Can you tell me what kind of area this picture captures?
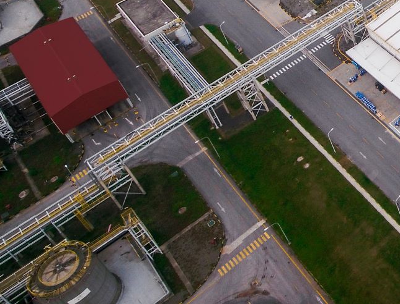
industrial area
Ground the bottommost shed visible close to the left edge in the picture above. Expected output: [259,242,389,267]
[12,14,141,135]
